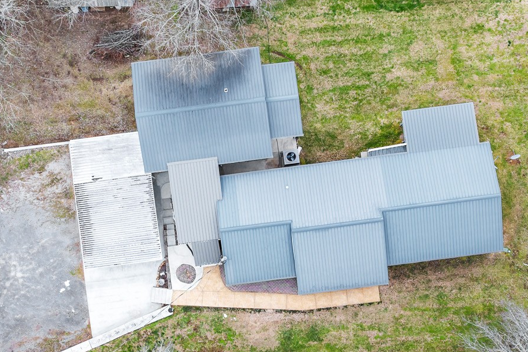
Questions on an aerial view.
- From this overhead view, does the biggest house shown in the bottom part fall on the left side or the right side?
right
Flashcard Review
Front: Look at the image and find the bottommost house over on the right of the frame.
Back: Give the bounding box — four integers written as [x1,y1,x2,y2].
[218,142,513,295]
